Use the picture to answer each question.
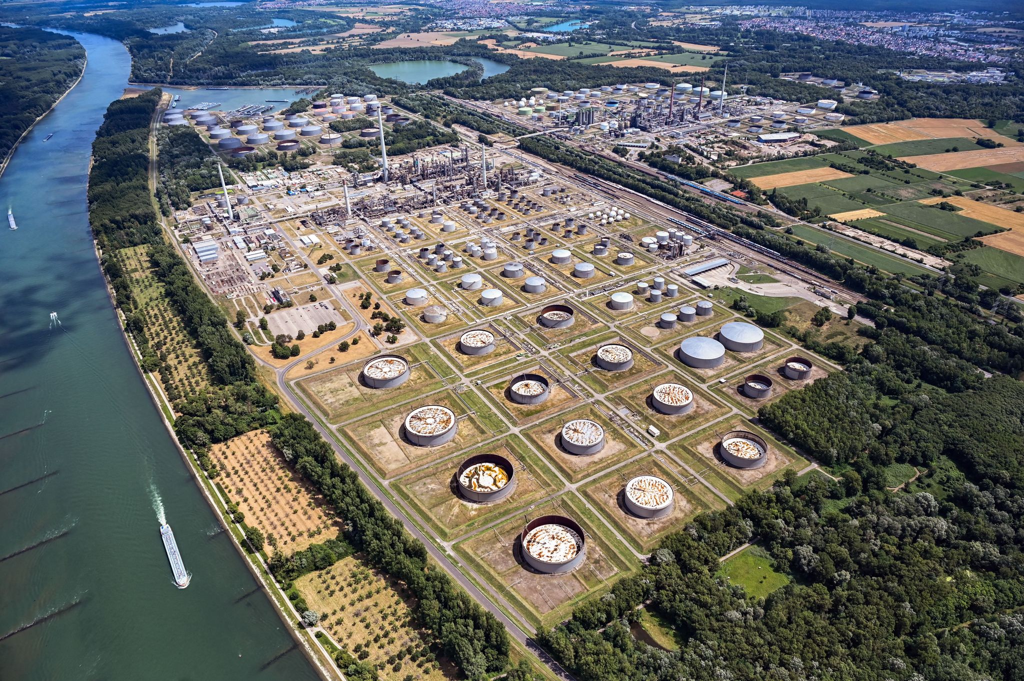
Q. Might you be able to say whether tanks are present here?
Yes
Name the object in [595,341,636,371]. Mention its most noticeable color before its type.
white storage tank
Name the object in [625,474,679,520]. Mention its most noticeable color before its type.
white storage tank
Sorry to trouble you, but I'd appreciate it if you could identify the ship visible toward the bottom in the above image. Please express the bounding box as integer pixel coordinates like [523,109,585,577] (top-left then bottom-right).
[161,524,188,588]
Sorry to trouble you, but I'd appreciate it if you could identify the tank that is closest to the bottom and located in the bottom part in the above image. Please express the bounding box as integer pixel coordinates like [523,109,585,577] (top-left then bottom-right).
[519,514,589,576]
